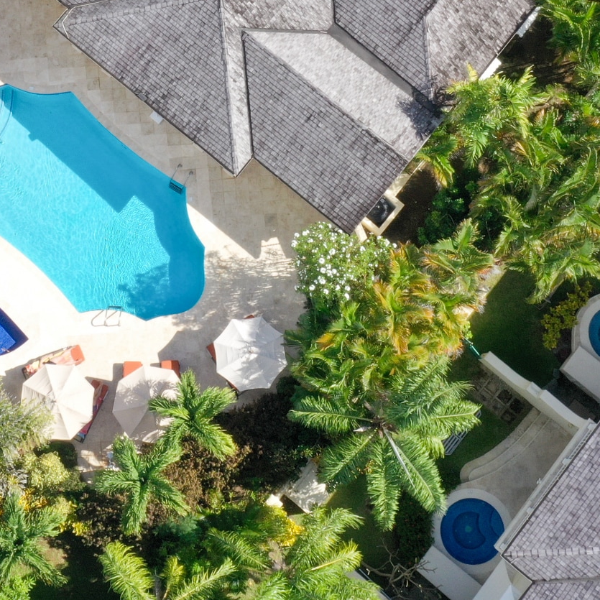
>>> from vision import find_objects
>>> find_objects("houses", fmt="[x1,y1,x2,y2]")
[52,0,524,232]
[449,388,600,600]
